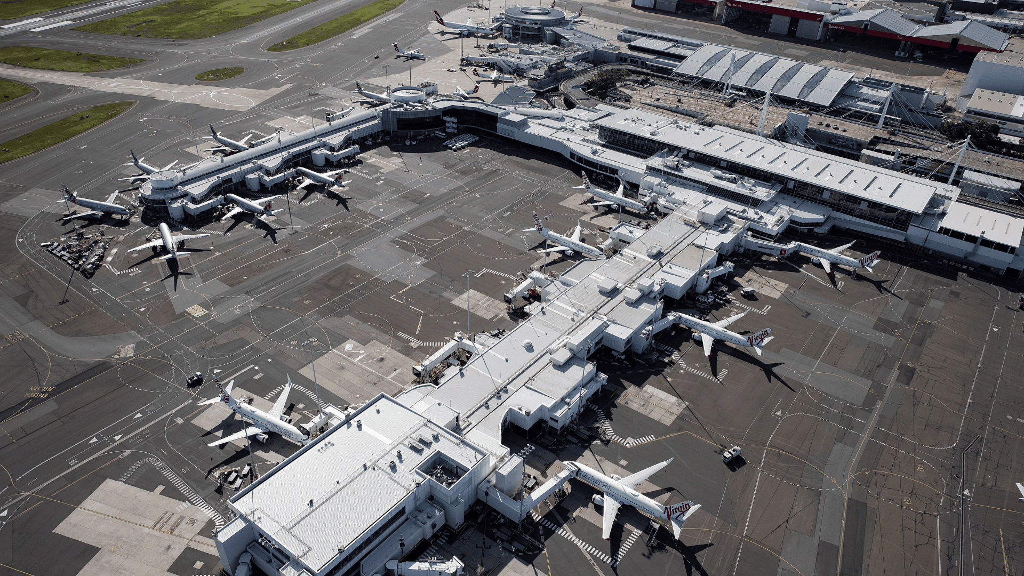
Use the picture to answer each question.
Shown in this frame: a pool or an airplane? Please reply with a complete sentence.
I can see an airplane in this picture.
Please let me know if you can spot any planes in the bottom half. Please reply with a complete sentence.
Yes, there is a plane in the bottom half.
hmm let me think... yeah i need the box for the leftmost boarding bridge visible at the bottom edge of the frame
[233,543,256,576]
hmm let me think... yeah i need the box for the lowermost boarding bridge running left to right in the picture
[382,548,468,576]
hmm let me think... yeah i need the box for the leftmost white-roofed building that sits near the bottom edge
[215,393,491,576]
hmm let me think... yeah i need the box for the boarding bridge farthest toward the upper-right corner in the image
[743,234,803,262]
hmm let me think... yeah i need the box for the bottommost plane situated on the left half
[199,373,313,447]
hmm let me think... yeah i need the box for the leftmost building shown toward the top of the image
[137,107,383,221]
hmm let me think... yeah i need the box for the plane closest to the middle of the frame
[524,212,605,260]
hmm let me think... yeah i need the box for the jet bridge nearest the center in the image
[501,271,556,304]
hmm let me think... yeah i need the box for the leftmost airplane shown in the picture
[54,184,131,219]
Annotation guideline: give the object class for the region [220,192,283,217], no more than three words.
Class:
airplane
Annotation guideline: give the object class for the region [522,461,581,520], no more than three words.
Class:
jet bridge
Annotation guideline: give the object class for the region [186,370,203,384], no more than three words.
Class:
vehicle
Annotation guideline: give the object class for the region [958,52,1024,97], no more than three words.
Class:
hangar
